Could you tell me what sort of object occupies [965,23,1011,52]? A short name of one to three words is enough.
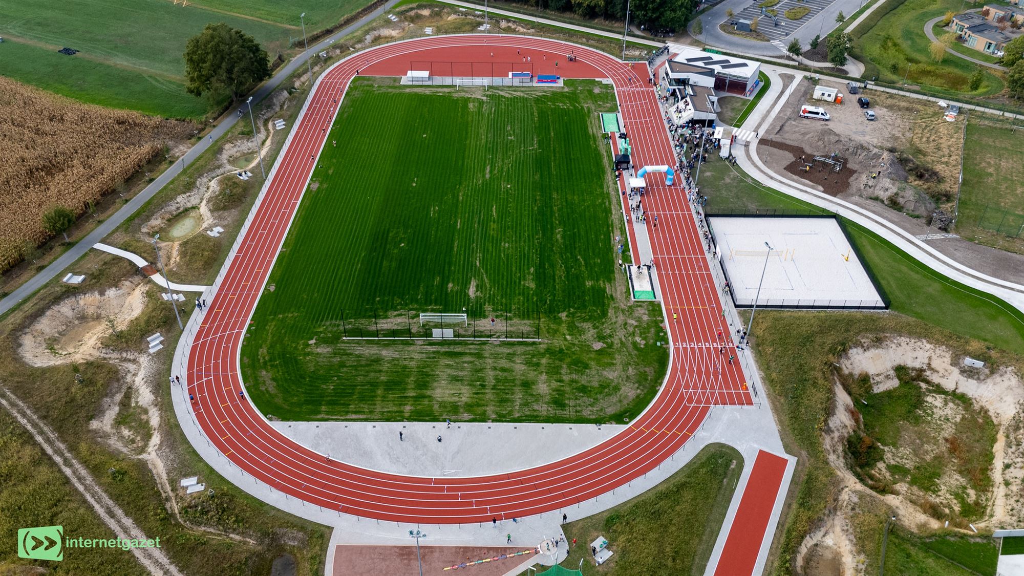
house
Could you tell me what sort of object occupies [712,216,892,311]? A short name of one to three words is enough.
sports court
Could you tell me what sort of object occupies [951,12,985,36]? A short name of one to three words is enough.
house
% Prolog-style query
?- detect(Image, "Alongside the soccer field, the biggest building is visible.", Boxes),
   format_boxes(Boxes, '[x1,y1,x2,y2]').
[665,48,760,127]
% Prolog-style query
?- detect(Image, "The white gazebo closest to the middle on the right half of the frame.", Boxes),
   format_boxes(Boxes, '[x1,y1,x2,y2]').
[628,175,647,192]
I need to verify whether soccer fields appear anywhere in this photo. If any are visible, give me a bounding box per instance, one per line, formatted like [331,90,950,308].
[241,78,668,425]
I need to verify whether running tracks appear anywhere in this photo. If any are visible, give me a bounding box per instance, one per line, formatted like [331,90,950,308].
[187,36,755,522]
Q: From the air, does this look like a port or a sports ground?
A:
sports ground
